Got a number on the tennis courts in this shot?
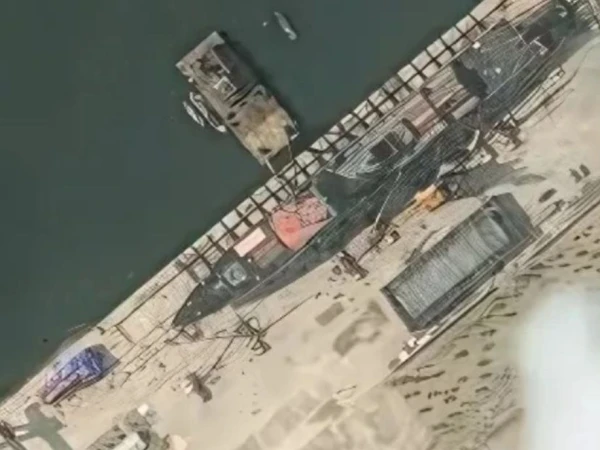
0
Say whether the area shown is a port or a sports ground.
port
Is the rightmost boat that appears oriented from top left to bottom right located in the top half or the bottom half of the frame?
top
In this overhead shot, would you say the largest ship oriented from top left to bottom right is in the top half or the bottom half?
top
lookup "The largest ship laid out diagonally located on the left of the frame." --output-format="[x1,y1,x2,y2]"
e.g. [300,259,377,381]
[176,32,297,164]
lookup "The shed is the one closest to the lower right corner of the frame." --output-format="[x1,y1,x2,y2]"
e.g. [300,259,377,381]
[379,190,538,333]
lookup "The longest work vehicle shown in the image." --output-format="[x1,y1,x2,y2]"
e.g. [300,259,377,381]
[384,179,448,228]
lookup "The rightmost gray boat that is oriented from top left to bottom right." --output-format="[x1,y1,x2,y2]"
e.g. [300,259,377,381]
[276,12,297,39]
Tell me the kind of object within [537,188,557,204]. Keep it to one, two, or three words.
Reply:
vehicle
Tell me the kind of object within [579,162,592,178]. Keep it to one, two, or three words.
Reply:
vehicle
